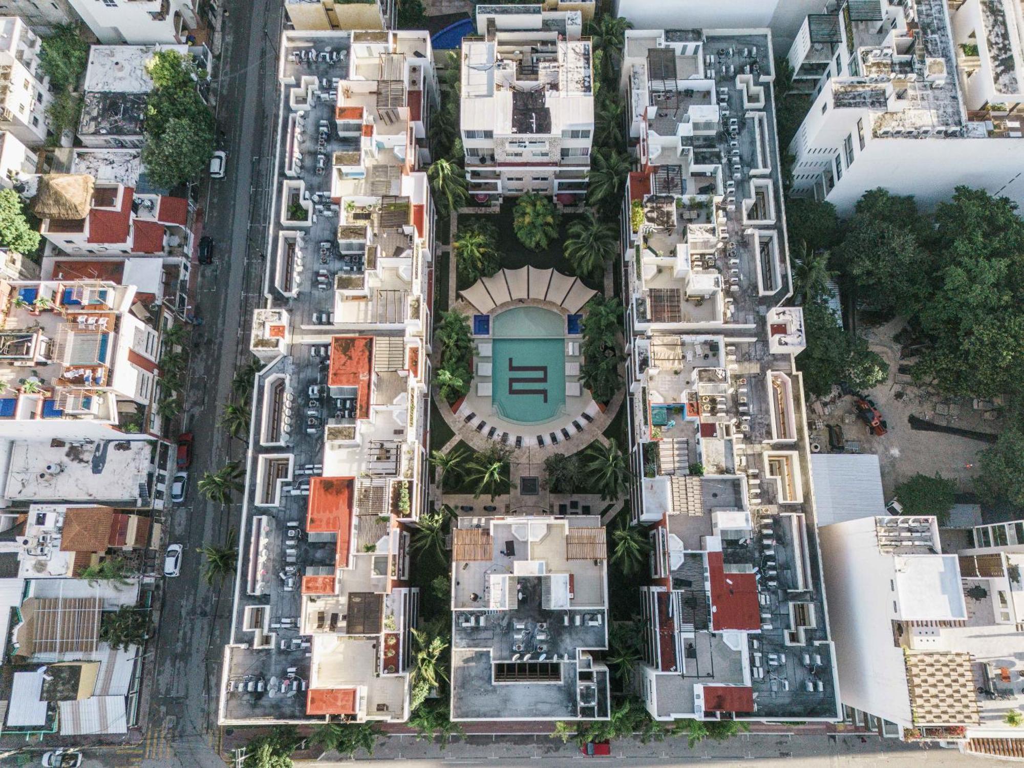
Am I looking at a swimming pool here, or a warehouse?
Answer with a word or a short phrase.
swimming pool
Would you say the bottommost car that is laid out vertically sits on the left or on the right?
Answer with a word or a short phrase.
left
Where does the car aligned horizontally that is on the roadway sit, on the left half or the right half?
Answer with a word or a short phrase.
left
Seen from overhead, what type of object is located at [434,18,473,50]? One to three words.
swimming pool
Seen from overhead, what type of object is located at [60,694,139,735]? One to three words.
shed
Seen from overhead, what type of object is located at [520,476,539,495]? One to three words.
fountain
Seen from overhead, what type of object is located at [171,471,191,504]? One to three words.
car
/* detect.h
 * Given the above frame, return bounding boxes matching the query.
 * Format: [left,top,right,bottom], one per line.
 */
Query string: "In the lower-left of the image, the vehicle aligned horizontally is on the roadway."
[42,748,86,768]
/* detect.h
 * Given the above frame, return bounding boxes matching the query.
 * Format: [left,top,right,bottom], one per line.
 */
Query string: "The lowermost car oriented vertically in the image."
[165,542,186,579]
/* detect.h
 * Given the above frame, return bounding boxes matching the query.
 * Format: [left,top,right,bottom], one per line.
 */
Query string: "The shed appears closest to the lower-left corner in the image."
[9,670,65,726]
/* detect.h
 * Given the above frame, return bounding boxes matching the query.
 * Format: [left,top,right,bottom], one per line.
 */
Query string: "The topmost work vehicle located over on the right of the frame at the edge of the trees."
[847,394,893,447]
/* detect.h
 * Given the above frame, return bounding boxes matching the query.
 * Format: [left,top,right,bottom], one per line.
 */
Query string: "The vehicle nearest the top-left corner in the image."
[210,153,227,179]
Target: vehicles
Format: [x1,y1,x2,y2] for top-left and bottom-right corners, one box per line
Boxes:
[171,471,191,504]
[165,542,186,579]
[197,237,216,266]
[42,748,86,768]
[578,740,614,759]
[847,394,893,447]
[210,153,227,179]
